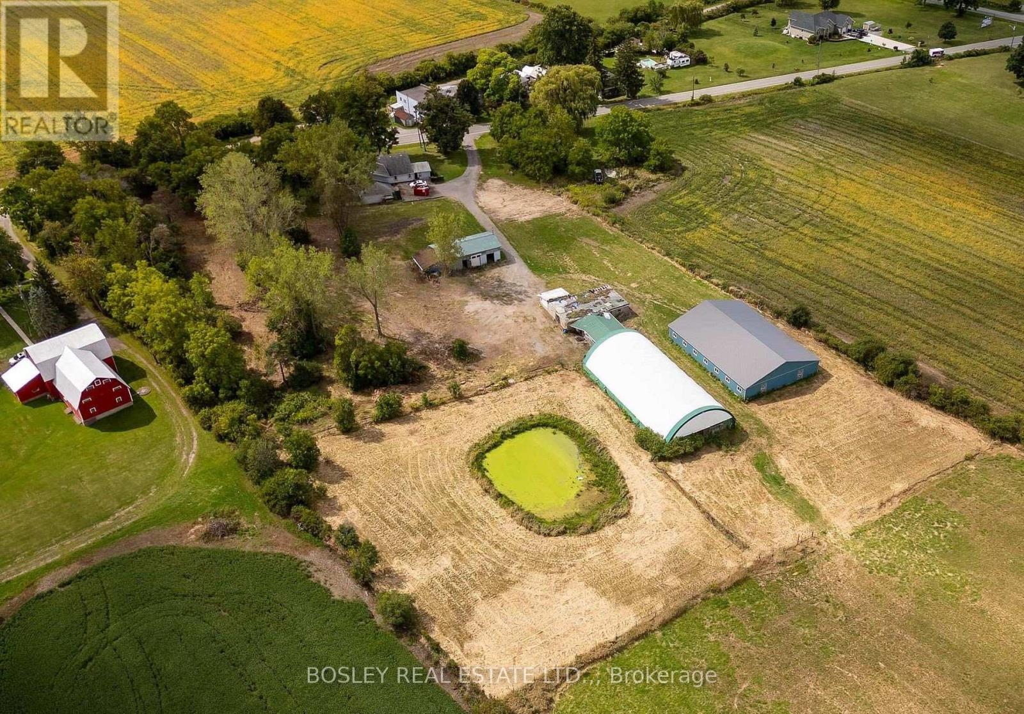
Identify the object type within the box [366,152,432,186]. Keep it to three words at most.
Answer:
house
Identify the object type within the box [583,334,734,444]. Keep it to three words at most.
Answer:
barn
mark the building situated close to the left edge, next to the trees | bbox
[1,319,132,426]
